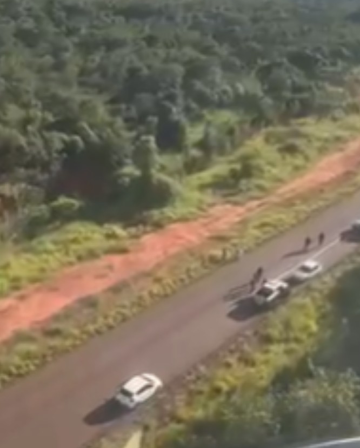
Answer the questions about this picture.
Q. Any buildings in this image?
No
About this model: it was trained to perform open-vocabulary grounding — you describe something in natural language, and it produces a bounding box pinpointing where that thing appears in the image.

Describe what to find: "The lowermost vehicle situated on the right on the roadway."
[250,274,293,305]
